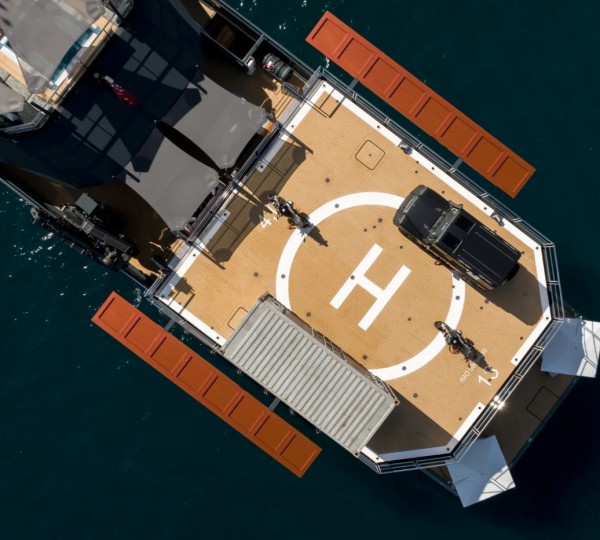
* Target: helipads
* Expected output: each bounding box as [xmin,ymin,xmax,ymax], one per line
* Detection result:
[145,65,570,474]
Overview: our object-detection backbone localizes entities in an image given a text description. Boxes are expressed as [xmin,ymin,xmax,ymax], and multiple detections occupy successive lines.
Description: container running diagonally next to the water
[221,293,398,458]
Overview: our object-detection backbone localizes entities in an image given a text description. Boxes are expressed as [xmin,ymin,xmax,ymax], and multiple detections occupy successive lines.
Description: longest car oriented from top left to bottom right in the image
[396,187,517,291]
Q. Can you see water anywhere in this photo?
Yes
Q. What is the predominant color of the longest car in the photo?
black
